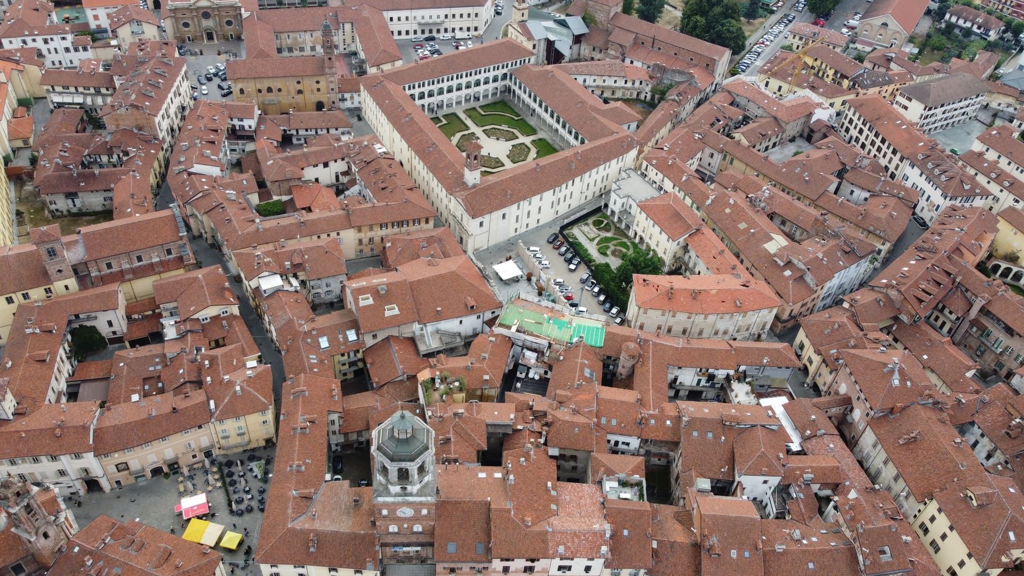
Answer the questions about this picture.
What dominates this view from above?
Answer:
buildings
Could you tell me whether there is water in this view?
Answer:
No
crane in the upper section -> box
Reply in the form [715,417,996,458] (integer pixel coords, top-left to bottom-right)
[734,34,825,84]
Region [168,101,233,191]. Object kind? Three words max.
house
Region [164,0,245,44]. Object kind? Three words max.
building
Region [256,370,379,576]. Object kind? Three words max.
house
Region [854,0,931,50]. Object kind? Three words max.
building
